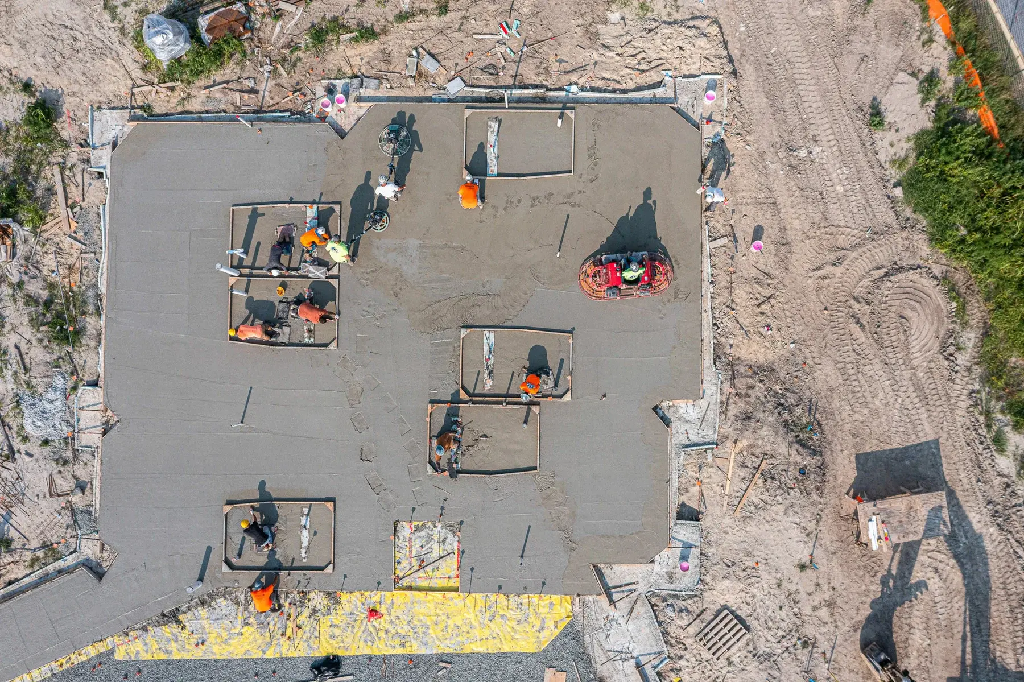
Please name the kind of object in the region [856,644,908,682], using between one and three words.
work vehicle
